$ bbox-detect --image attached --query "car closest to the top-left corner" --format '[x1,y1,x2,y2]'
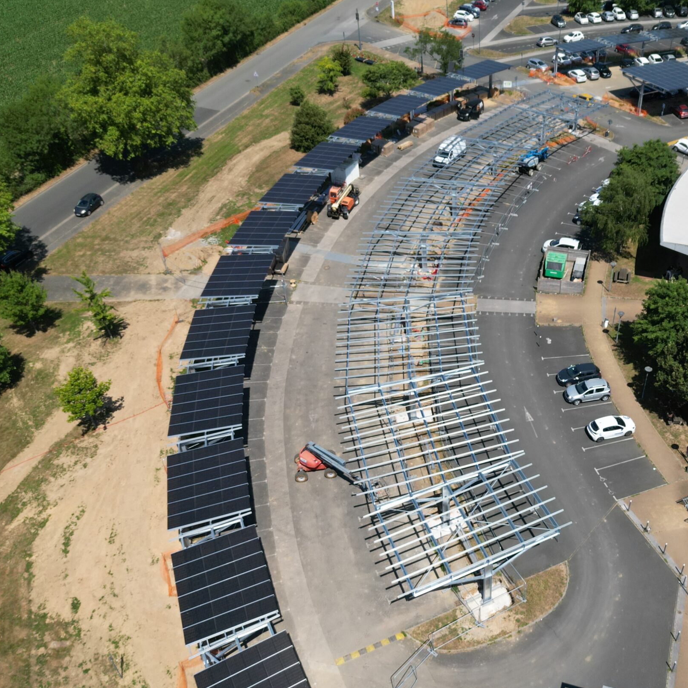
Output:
[71,193,105,214]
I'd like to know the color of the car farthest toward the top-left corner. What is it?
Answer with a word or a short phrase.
black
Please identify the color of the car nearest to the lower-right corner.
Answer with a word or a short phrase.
white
